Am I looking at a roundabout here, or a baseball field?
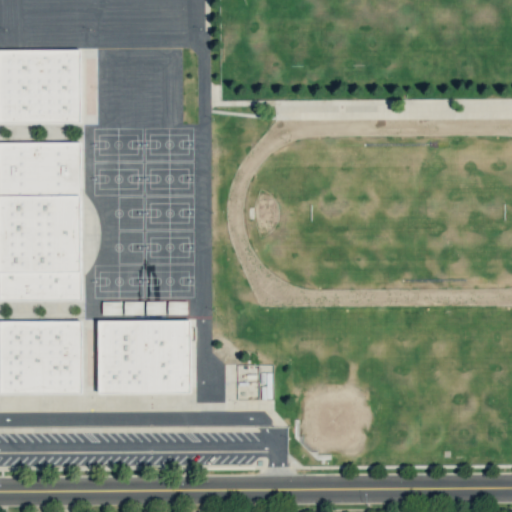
baseball field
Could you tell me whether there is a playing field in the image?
Yes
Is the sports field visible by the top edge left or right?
right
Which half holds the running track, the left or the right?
right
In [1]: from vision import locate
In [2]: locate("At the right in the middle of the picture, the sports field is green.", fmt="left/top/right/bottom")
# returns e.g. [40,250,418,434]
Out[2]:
[246,136,512,290]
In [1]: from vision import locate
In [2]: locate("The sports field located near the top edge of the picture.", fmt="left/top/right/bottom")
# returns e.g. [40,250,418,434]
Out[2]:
[222,0,512,78]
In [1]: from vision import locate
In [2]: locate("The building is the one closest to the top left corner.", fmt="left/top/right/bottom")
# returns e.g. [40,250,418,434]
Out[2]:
[0,49,82,122]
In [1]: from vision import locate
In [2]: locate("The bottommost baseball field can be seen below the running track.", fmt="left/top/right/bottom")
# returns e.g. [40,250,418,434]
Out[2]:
[295,384,373,464]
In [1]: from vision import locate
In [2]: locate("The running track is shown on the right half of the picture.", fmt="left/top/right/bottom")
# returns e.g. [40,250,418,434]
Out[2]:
[228,120,512,306]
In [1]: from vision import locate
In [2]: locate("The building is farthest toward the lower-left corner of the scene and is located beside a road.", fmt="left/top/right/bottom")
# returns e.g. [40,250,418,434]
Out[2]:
[0,321,84,394]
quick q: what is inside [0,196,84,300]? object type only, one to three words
building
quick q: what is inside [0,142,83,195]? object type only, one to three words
building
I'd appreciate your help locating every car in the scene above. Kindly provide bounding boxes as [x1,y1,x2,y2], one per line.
[208,456,216,464]
[194,454,202,462]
